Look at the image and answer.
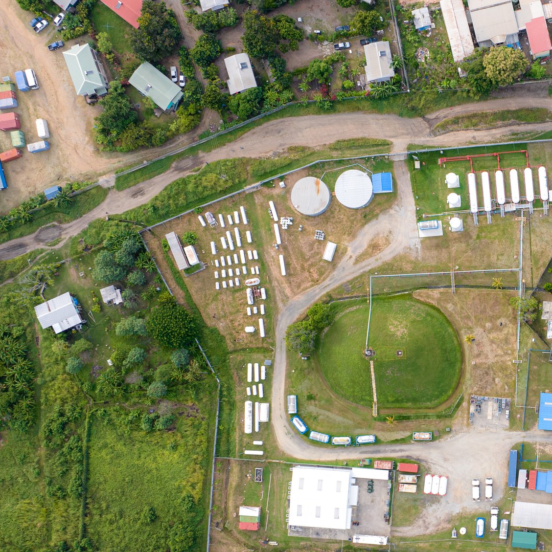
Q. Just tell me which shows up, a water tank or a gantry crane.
water tank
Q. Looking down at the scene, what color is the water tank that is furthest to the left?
white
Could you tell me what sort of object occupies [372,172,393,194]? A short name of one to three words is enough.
building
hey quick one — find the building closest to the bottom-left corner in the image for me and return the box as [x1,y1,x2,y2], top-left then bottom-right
[35,292,86,333]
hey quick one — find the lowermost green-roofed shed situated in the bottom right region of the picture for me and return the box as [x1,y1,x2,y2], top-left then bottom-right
[513,530,538,548]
